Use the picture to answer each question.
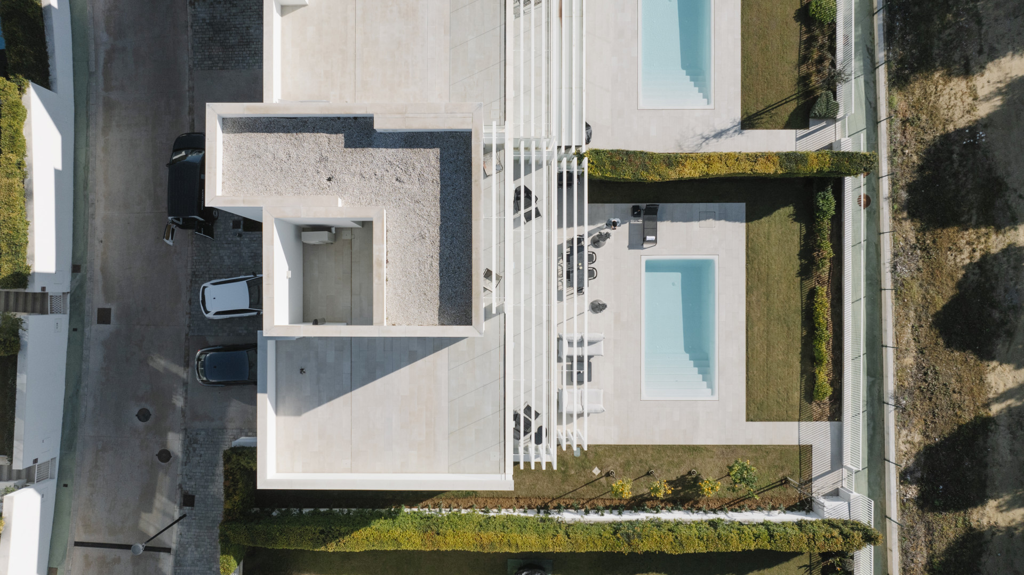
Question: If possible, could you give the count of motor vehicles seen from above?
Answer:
3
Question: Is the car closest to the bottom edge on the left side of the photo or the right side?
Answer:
left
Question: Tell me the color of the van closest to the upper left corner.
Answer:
black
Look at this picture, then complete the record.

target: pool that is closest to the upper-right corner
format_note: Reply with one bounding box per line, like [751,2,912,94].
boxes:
[638,0,714,109]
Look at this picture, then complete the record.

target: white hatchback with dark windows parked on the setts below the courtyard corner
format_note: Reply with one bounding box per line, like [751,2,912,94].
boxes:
[198,269,263,320]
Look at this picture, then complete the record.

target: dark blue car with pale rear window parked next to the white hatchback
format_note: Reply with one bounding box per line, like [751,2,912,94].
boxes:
[195,343,257,387]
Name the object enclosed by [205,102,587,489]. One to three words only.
house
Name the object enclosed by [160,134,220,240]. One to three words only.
van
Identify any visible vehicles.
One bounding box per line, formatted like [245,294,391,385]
[195,343,257,387]
[198,269,263,320]
[160,134,220,240]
